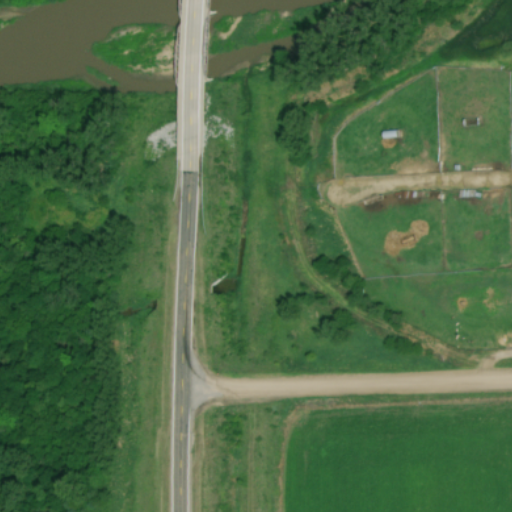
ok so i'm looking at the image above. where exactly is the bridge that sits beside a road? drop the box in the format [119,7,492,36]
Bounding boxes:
[176,0,215,172]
